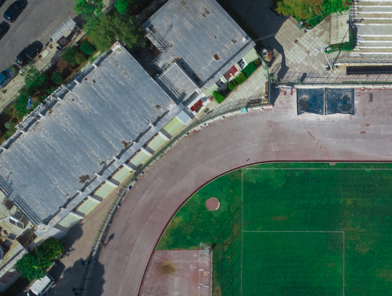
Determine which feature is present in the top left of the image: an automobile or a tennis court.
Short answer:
automobile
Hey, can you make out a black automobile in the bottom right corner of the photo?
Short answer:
No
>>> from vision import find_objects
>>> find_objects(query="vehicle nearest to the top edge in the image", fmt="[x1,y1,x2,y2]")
[0,0,24,20]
